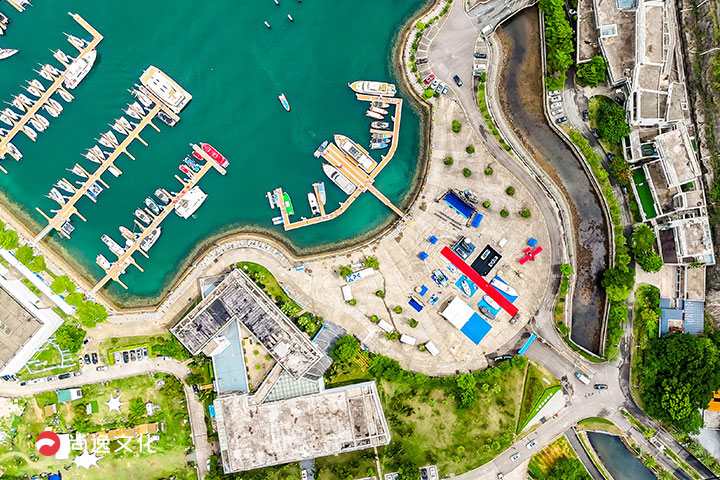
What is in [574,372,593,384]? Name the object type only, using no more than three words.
vehicle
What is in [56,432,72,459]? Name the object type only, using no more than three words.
tent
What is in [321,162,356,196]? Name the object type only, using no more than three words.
boat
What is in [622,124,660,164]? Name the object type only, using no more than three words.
house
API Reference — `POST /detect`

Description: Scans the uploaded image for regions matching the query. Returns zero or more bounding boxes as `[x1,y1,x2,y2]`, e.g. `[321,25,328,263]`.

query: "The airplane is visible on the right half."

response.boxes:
[522,246,546,267]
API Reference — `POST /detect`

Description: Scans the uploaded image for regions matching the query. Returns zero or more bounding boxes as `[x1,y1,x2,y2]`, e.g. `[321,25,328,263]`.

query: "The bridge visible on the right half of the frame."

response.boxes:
[465,0,542,38]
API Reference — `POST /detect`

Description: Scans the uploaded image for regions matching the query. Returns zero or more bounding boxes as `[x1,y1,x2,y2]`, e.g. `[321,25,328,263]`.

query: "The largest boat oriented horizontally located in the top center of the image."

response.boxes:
[347,79,399,96]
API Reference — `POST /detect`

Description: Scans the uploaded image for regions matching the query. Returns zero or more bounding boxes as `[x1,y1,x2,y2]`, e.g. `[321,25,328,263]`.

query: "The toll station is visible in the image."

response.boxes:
[647,429,667,458]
